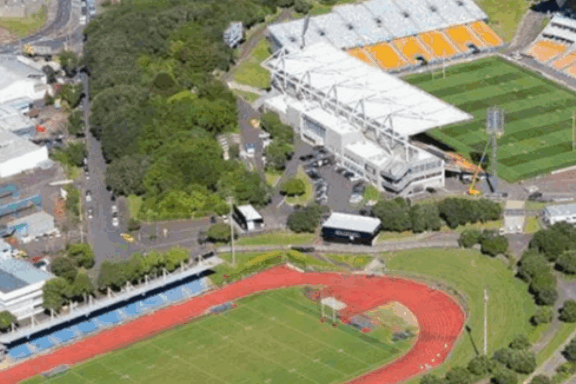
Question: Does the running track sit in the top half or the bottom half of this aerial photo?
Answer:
bottom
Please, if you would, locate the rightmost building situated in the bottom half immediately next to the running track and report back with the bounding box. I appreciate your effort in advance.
[323,213,380,249]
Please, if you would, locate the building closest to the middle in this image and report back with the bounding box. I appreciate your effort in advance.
[238,205,263,234]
